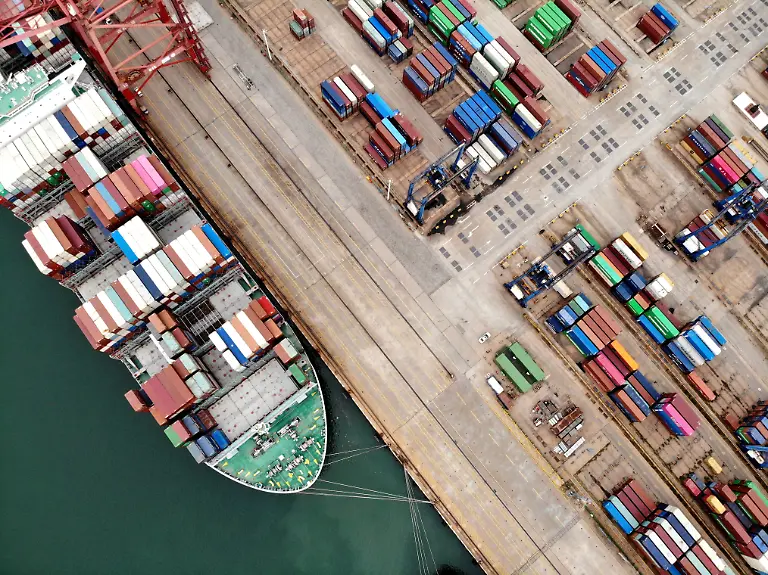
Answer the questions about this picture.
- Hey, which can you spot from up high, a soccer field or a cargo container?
cargo container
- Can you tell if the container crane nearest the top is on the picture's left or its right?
left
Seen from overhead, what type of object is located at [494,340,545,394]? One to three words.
shed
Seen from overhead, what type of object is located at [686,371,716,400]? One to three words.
shipping container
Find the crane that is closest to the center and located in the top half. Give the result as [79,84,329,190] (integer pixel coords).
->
[403,141,479,221]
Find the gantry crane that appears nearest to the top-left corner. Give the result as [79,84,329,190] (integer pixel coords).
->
[0,0,212,125]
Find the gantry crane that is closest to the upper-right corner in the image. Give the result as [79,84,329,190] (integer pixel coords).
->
[674,183,768,264]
